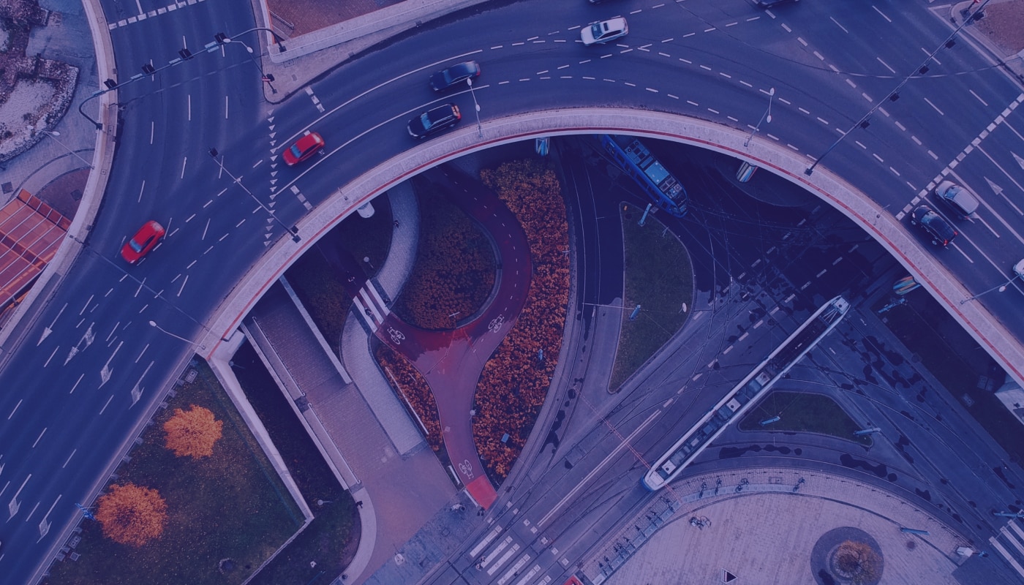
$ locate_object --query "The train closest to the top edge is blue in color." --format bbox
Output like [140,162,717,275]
[587,135,687,226]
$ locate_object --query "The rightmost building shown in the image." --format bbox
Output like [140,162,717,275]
[994,376,1024,425]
